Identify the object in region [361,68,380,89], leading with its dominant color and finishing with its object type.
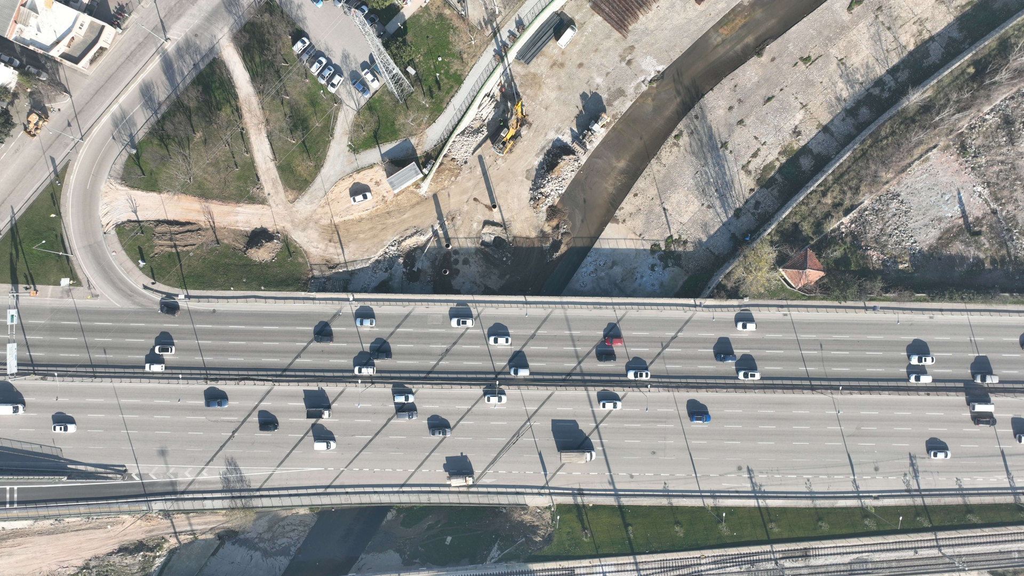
white car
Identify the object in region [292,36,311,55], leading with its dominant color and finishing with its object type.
white car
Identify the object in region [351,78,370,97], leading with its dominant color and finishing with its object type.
blue car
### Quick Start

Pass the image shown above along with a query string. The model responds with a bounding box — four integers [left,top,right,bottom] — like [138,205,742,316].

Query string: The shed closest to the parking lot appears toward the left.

[386,162,425,195]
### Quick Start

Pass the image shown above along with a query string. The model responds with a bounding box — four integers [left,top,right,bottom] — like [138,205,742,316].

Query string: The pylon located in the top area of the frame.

[340,0,413,102]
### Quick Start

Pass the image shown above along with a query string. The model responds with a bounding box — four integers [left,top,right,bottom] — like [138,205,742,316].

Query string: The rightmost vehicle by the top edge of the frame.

[555,26,578,50]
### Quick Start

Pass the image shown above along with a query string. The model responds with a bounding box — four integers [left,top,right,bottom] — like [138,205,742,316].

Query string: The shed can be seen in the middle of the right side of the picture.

[775,248,826,290]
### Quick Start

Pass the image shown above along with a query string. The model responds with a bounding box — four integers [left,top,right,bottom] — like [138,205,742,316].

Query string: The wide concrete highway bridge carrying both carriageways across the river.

[180,293,712,510]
